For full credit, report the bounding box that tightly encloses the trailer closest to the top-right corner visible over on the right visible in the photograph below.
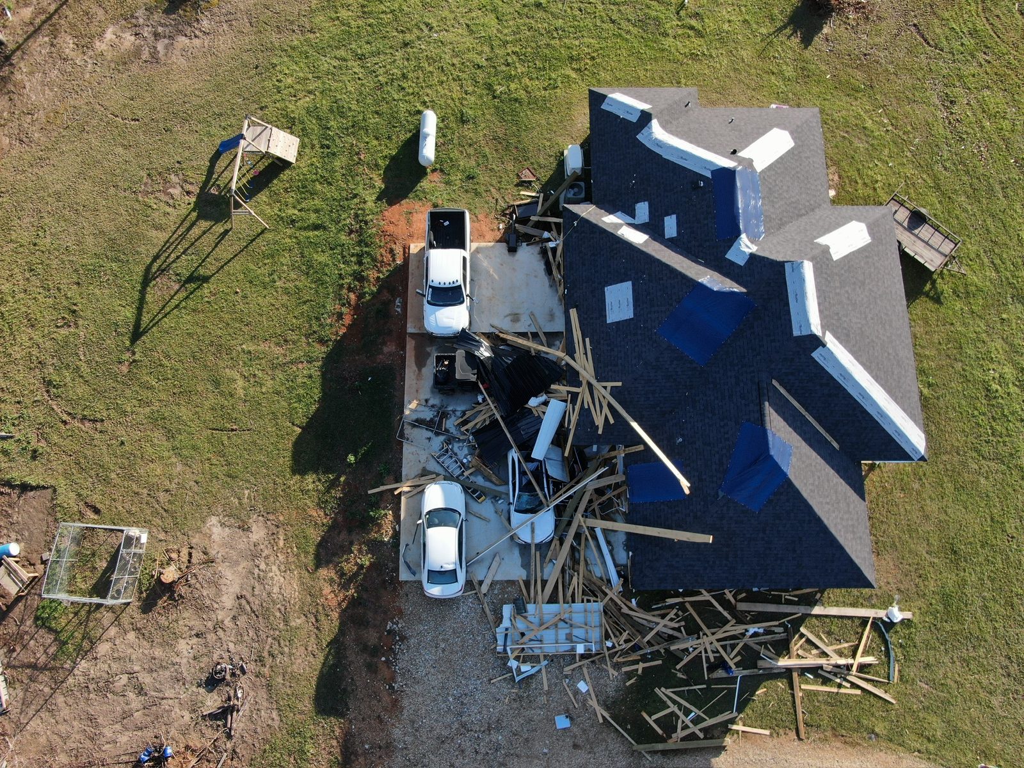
[886,185,964,277]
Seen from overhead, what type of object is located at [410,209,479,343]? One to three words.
truck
